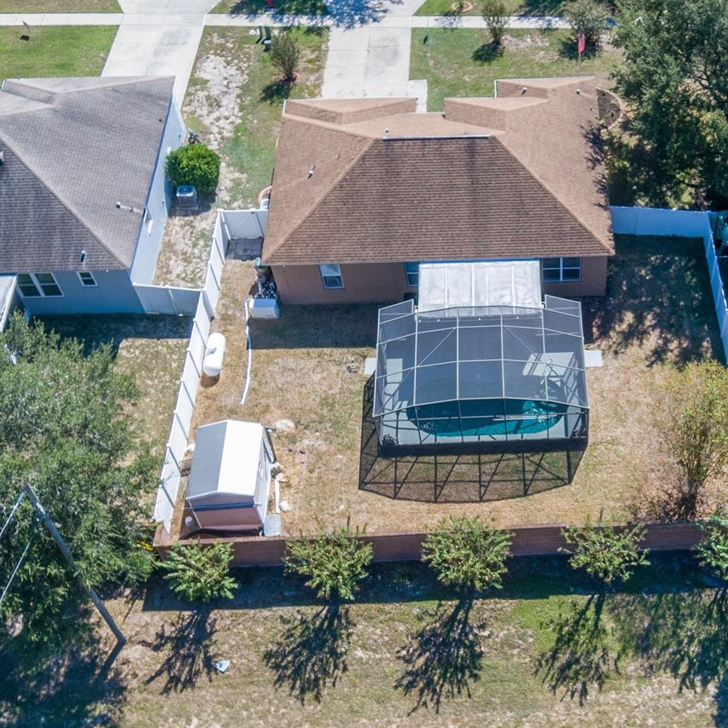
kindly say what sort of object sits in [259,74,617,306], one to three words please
house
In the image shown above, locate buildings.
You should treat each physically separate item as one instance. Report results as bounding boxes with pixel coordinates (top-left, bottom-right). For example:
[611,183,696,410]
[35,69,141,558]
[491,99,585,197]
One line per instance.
[259,74,617,306]
[187,421,277,529]
[0,70,186,317]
